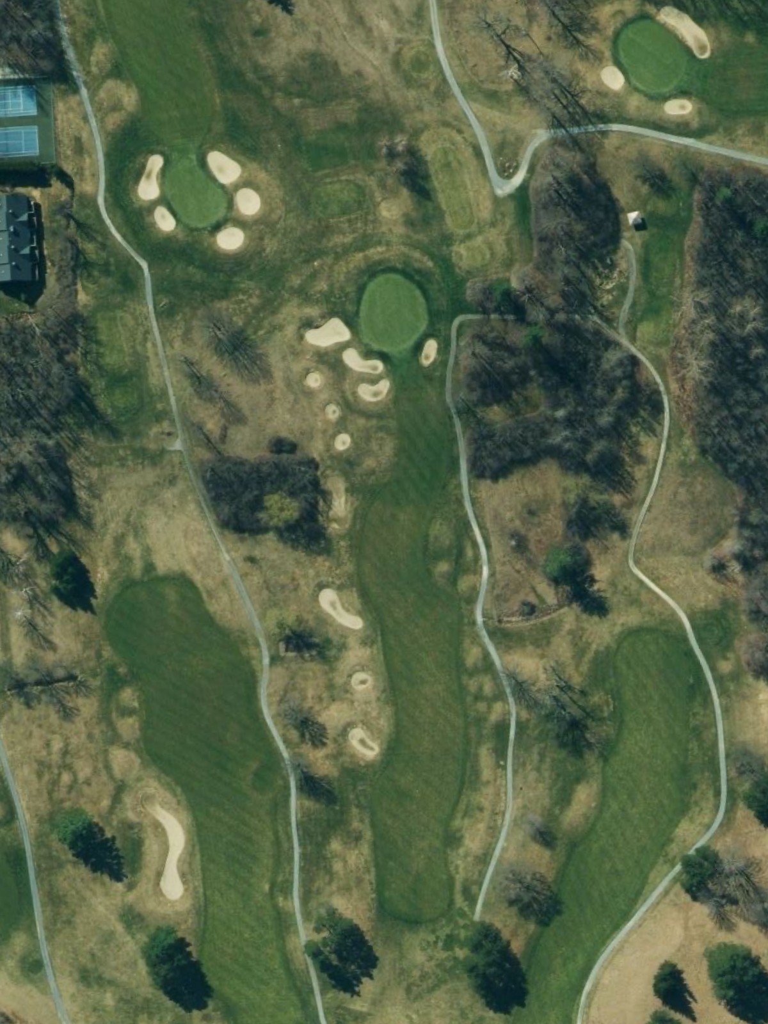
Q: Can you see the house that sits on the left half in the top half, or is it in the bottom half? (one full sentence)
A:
The house that sits on the left half sits in the top half of the picture.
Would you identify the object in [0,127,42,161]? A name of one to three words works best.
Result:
tennis court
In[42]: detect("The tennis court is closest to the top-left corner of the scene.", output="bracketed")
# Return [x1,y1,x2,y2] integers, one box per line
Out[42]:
[0,89,39,122]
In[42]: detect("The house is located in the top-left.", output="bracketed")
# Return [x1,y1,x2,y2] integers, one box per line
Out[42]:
[0,191,38,280]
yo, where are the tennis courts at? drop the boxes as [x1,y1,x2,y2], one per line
[0,89,39,122]
[0,127,42,161]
